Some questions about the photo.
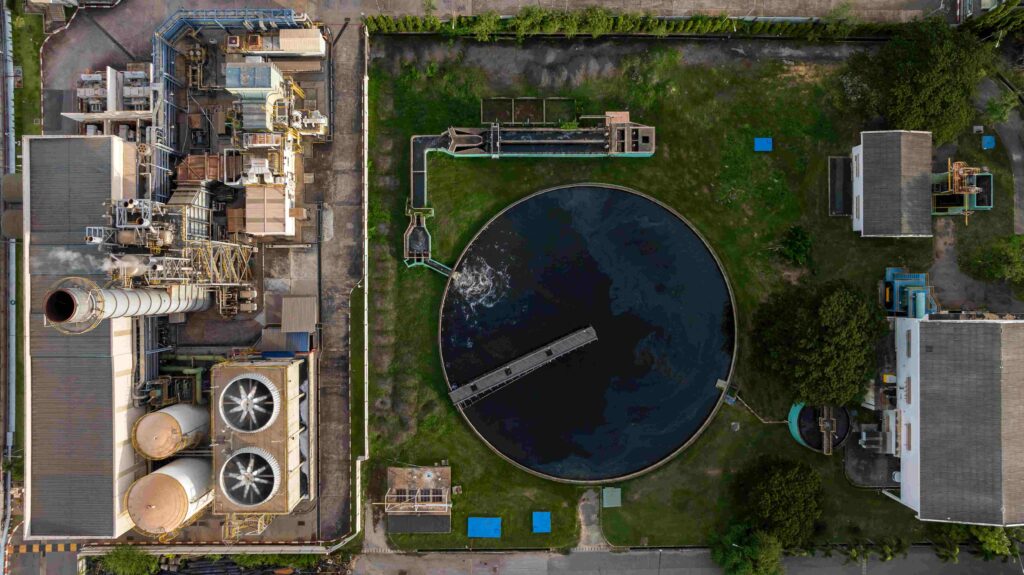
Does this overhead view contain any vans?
No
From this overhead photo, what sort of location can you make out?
industrial area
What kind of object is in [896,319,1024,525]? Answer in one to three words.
building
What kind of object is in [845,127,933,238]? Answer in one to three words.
building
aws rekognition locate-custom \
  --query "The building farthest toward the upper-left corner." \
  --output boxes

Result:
[24,0,89,36]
